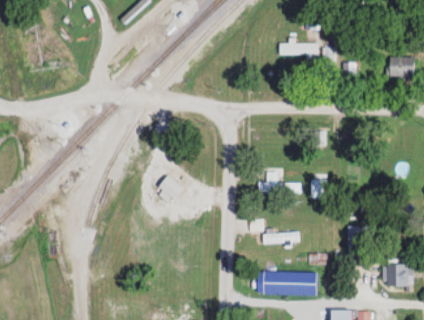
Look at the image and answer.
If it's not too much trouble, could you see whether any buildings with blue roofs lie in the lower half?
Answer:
Yes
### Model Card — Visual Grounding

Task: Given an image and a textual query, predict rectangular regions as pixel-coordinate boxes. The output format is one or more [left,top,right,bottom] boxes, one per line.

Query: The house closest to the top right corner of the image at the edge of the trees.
[388,58,415,78]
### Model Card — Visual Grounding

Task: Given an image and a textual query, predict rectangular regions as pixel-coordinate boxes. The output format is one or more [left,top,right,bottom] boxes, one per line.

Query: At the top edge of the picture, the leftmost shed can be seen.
[119,0,152,28]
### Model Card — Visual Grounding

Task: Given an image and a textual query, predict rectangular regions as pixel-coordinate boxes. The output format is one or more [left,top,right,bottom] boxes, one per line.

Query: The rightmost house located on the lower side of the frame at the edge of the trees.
[380,258,414,289]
